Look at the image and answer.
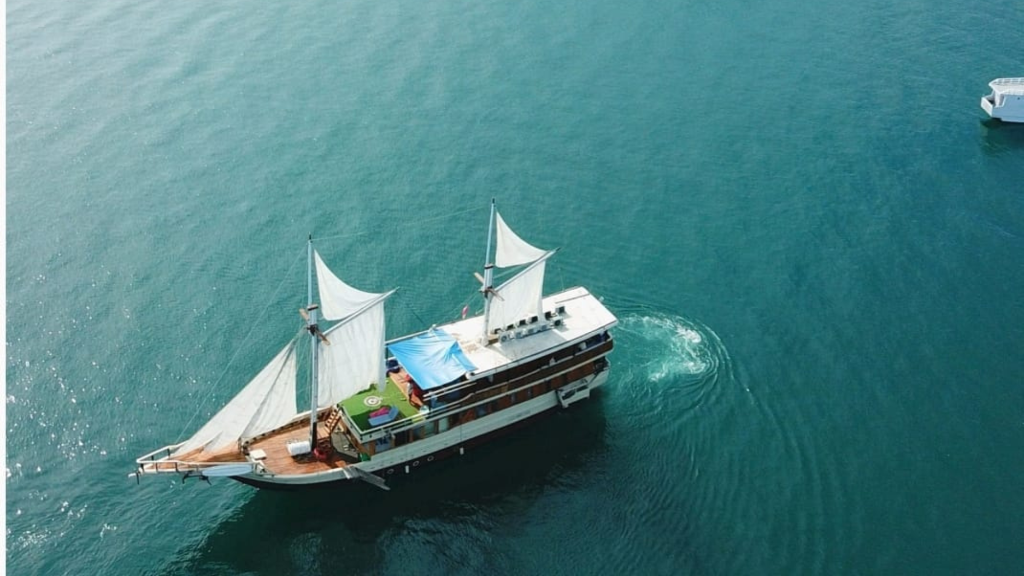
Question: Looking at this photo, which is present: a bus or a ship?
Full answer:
Visible in the photo is a ship.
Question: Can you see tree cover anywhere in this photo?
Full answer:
No, tree cover can't be seen anywhere here.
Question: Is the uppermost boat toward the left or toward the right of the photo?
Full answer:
The uppermost boat sits on the right side.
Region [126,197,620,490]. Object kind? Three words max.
ship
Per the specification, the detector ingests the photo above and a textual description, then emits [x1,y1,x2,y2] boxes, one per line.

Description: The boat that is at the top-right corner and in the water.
[983,74,1024,121]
